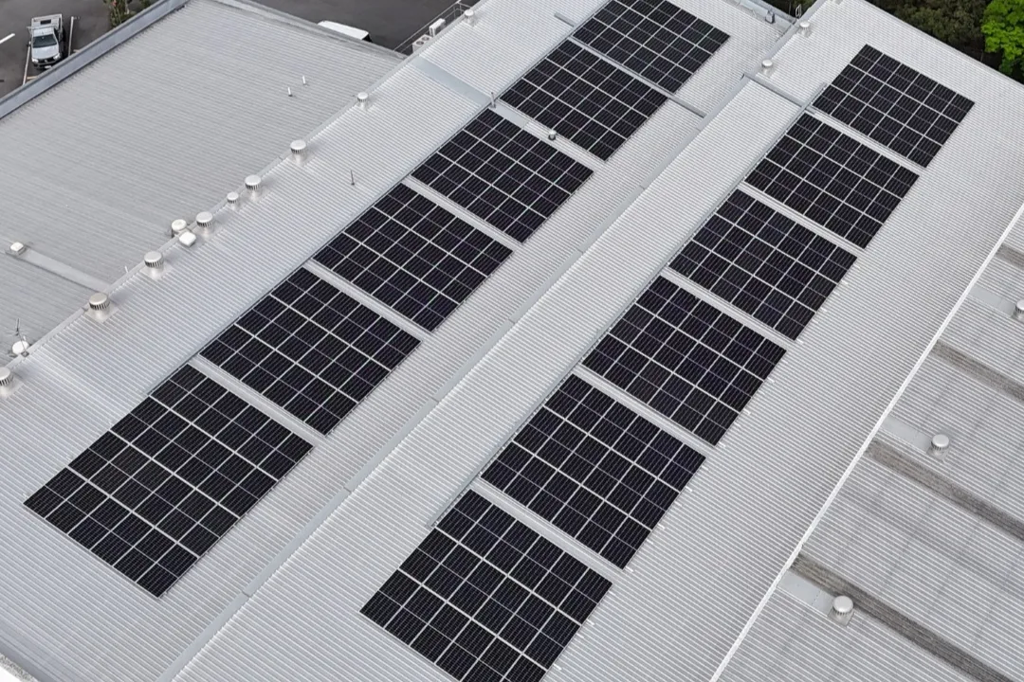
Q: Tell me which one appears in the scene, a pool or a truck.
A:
truck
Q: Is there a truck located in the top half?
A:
Yes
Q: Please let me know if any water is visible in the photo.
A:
No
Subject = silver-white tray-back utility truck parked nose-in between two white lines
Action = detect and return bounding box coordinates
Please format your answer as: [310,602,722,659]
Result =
[27,11,66,68]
